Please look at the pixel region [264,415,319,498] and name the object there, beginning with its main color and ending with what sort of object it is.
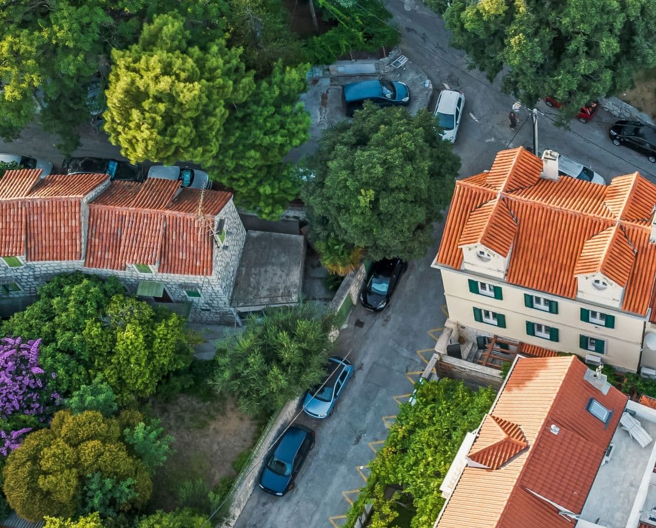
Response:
blue car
